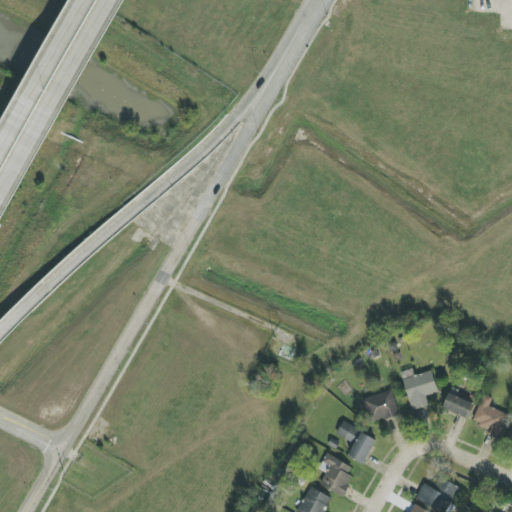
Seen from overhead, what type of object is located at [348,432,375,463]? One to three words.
house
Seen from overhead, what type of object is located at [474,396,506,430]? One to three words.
house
